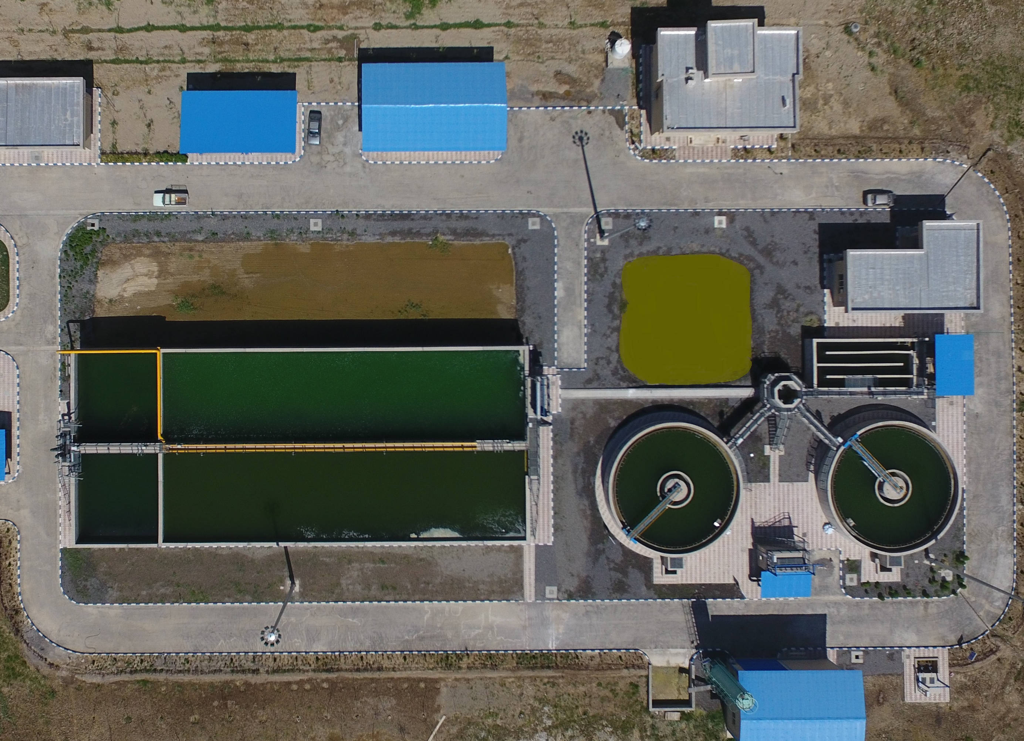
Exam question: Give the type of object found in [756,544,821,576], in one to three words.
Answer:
building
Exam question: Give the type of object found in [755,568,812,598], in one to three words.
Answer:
shed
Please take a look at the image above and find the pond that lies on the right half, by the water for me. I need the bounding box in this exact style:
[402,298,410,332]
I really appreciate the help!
[620,253,752,385]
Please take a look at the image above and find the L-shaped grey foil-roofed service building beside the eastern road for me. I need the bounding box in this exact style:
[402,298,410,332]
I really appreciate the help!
[831,220,983,313]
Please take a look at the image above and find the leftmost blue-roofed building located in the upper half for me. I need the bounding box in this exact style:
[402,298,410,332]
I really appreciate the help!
[179,91,299,155]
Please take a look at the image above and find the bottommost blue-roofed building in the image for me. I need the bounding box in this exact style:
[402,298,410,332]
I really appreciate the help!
[727,659,868,741]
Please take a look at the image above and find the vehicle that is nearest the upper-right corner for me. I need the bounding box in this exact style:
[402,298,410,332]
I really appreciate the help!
[865,192,897,207]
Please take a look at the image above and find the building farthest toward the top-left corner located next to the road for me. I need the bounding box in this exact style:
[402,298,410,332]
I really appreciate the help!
[0,77,94,155]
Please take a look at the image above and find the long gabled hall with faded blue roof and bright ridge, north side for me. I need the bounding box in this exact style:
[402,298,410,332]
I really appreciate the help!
[362,62,507,153]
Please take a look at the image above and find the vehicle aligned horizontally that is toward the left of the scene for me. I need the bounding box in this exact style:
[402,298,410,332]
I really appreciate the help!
[153,191,190,208]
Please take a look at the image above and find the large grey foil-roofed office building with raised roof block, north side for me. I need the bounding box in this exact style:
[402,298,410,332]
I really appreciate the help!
[646,19,802,145]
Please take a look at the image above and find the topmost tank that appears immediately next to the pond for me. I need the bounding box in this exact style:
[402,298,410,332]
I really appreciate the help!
[804,338,929,389]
